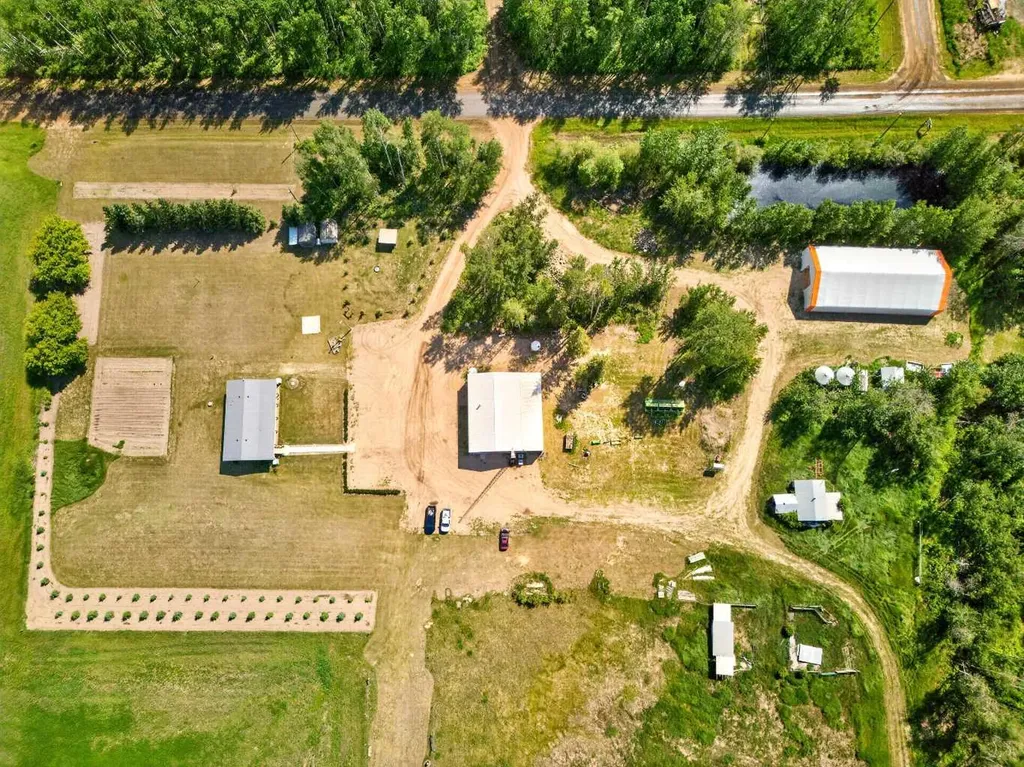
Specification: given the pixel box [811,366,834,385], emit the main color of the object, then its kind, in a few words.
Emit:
white silo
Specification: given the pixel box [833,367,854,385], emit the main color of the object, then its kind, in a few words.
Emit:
white silo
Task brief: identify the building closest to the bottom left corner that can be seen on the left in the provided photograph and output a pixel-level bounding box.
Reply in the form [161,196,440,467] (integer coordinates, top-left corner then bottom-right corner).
[223,380,280,463]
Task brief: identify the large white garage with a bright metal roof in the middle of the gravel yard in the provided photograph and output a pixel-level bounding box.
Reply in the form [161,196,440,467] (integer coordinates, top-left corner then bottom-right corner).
[468,374,543,452]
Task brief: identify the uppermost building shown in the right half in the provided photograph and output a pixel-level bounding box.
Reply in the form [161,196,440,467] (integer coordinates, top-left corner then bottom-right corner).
[800,245,951,316]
